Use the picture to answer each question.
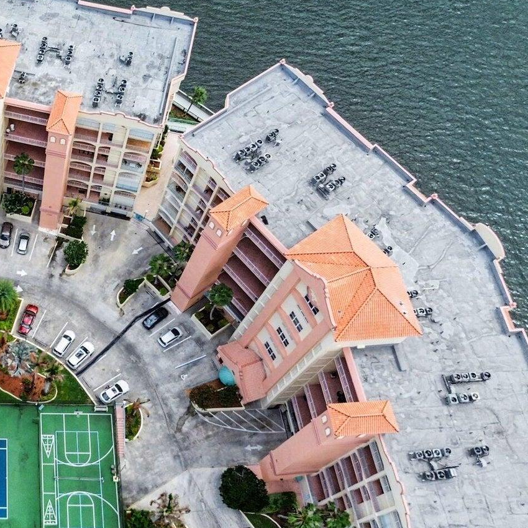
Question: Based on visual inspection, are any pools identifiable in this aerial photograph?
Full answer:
No, I can see no pool in this picture.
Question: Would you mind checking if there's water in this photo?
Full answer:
Yes, some water is visible.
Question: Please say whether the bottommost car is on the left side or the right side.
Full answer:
The bottommost car appears in the left half of the scene.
